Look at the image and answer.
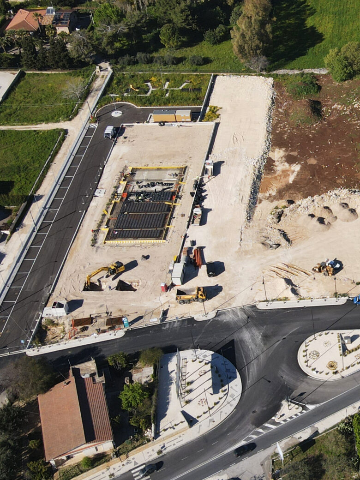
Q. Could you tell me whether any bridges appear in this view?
No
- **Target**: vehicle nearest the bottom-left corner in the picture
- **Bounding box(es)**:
[136,462,160,479]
